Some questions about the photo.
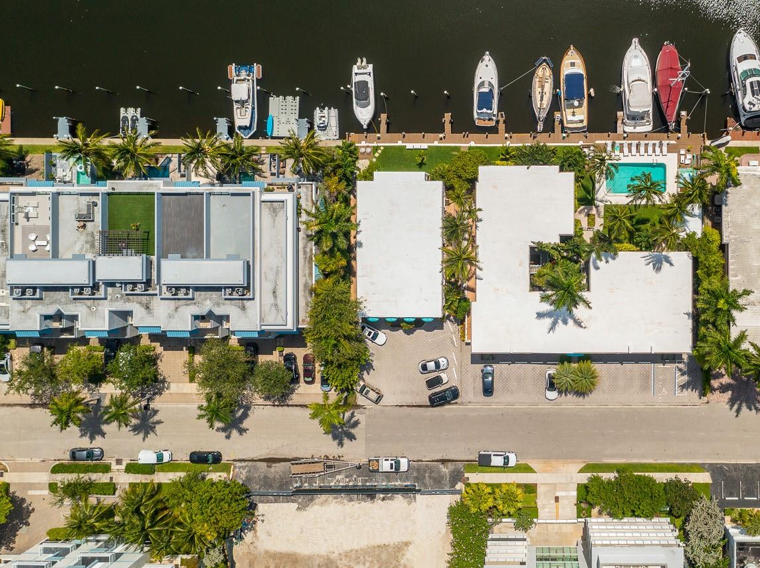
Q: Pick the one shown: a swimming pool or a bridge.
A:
swimming pool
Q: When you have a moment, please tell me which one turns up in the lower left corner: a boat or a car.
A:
car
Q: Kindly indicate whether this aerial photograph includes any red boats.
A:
Yes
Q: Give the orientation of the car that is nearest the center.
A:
on a diagonal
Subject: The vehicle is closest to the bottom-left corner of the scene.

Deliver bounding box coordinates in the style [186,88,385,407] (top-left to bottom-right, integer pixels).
[70,446,105,463]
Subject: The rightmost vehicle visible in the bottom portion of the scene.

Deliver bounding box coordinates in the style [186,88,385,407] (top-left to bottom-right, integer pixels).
[544,368,559,400]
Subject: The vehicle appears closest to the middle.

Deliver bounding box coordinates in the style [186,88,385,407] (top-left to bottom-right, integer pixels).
[358,321,390,347]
